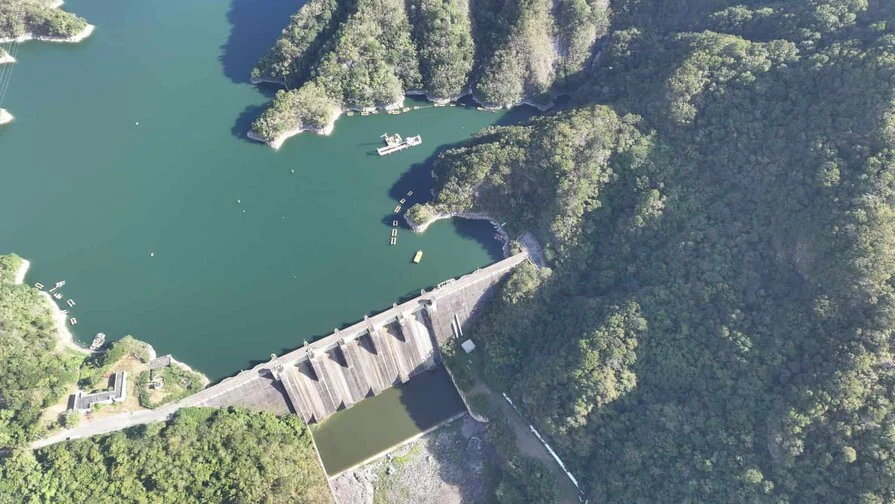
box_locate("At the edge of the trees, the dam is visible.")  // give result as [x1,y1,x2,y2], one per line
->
[195,251,528,501]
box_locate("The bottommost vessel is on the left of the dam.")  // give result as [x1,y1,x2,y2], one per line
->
[89,332,106,352]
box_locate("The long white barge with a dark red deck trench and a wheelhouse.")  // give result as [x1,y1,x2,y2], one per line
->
[378,136,421,156]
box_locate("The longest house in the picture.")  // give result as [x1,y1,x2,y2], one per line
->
[70,370,128,413]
